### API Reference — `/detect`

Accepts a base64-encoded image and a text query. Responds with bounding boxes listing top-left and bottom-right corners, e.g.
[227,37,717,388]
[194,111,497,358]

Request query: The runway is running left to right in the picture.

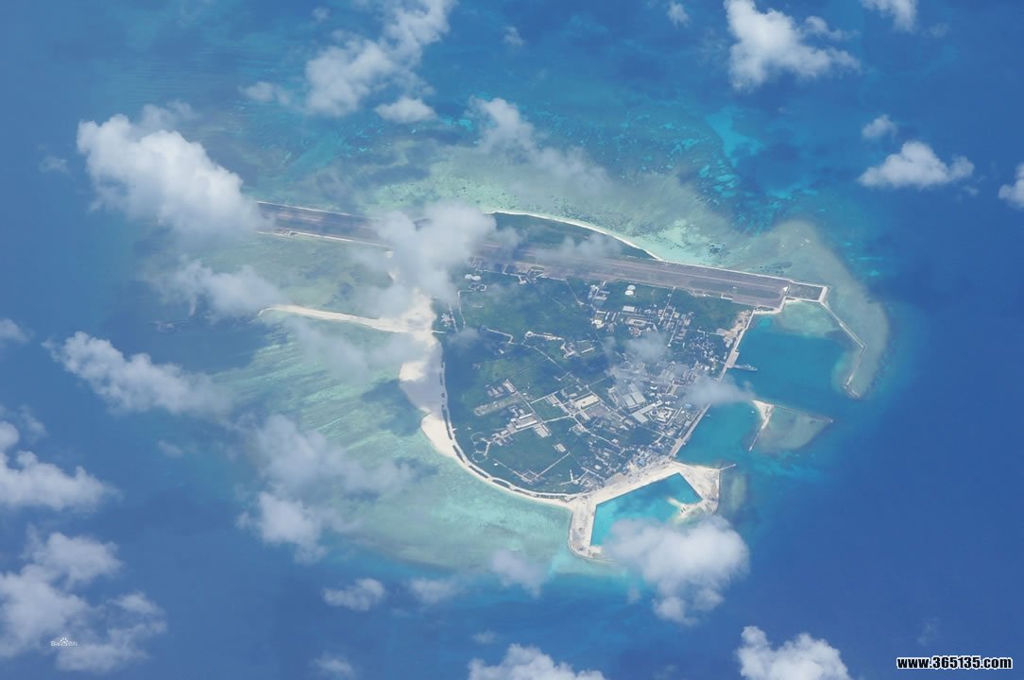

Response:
[253,212,780,292]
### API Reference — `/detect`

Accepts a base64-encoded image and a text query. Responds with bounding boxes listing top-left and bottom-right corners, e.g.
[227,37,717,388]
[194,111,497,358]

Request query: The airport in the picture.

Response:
[253,201,827,315]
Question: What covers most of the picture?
water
